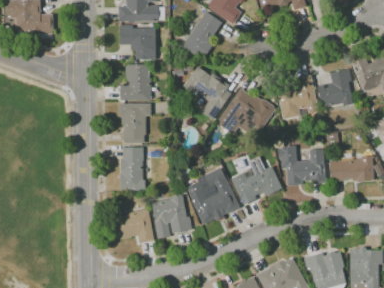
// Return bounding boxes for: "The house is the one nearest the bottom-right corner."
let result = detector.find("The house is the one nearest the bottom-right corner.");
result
[351,250,383,288]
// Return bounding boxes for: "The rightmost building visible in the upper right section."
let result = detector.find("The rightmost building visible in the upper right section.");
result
[353,56,384,93]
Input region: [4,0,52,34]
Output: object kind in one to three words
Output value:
house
